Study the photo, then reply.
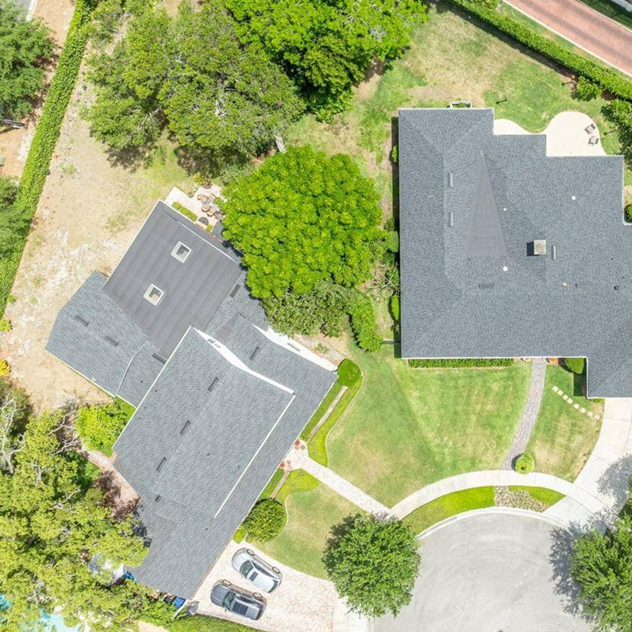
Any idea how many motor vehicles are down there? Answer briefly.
2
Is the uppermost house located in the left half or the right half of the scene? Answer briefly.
right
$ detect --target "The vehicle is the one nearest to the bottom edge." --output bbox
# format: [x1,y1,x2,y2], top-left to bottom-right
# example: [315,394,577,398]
[207,577,270,625]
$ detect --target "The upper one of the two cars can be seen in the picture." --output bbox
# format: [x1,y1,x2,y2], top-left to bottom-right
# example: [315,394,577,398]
[228,548,286,596]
